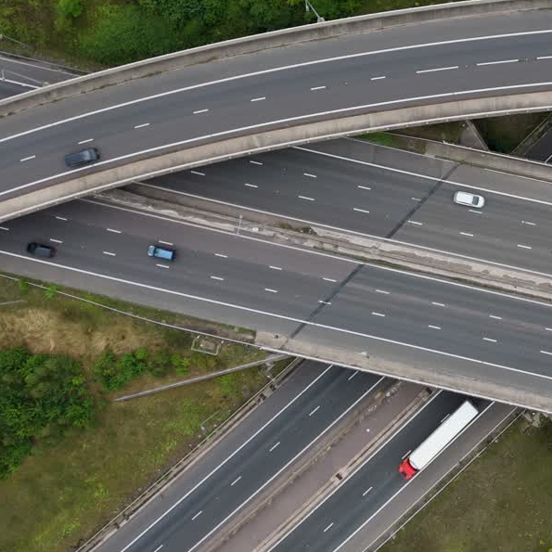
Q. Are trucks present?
Yes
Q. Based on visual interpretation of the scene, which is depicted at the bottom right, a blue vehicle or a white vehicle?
white vehicle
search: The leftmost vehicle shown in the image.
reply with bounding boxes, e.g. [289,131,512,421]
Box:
[28,242,56,257]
